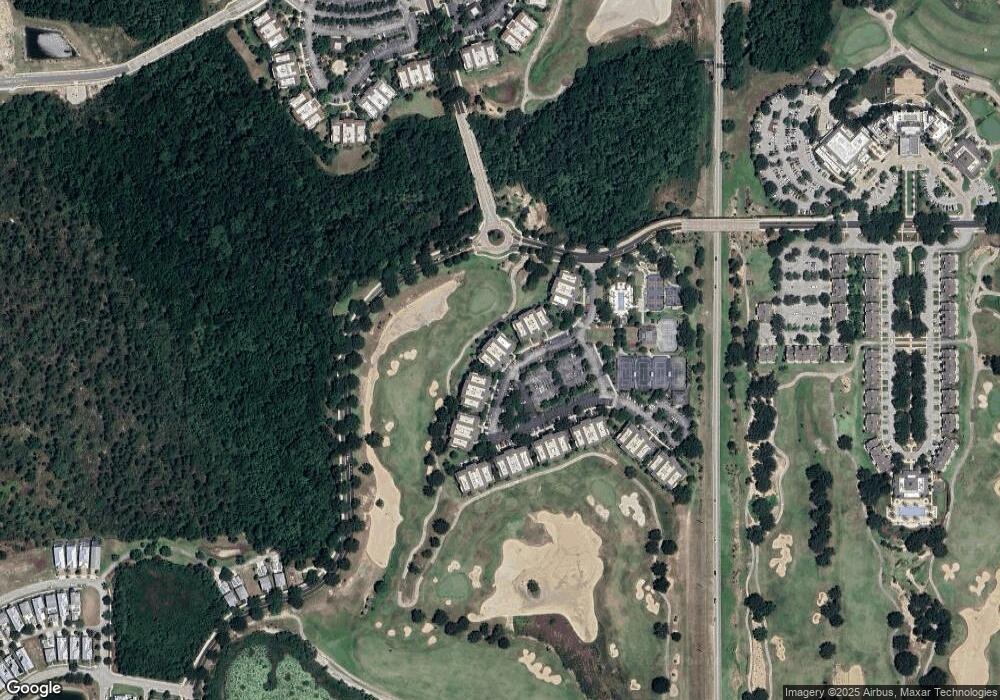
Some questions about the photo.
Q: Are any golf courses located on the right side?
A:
Yes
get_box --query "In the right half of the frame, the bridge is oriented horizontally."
[683,218,761,230]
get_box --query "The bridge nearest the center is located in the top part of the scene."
[455,108,496,224]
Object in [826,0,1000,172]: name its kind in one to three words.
golf course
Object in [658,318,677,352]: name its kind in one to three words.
sports court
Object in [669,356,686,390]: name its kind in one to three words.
tennis court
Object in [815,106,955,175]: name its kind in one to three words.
building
